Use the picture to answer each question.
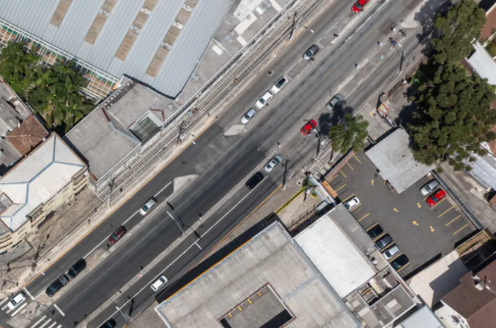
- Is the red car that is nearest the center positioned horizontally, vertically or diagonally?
diagonally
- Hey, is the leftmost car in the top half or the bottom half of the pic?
bottom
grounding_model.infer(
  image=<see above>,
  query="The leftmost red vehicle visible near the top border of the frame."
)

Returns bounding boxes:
[351,0,369,13]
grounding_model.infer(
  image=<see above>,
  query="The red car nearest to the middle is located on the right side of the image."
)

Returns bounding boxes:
[299,117,320,137]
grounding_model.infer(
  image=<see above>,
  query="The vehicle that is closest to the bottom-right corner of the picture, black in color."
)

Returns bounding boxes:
[389,254,411,271]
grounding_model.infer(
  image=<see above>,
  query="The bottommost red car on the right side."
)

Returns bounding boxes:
[424,189,446,208]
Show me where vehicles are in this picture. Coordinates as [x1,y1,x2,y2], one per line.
[5,290,29,312]
[101,317,119,328]
[381,244,401,260]
[108,225,128,244]
[64,257,88,279]
[300,43,322,62]
[45,274,70,297]
[343,195,362,211]
[374,233,394,250]
[237,106,259,127]
[150,274,169,293]
[311,199,332,216]
[351,0,369,13]
[252,89,275,109]
[137,195,161,216]
[270,74,291,95]
[424,189,446,208]
[389,254,411,271]
[365,222,387,241]
[299,117,320,137]
[416,179,438,198]
[243,169,265,191]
